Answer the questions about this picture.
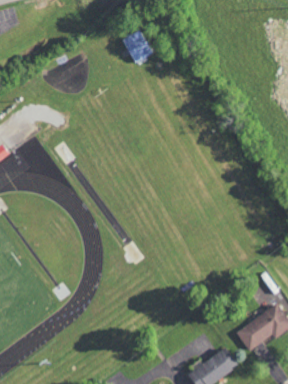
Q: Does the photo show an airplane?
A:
No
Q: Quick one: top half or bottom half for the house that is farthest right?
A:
bottom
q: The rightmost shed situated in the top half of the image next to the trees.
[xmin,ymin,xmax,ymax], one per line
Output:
[124,30,156,64]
